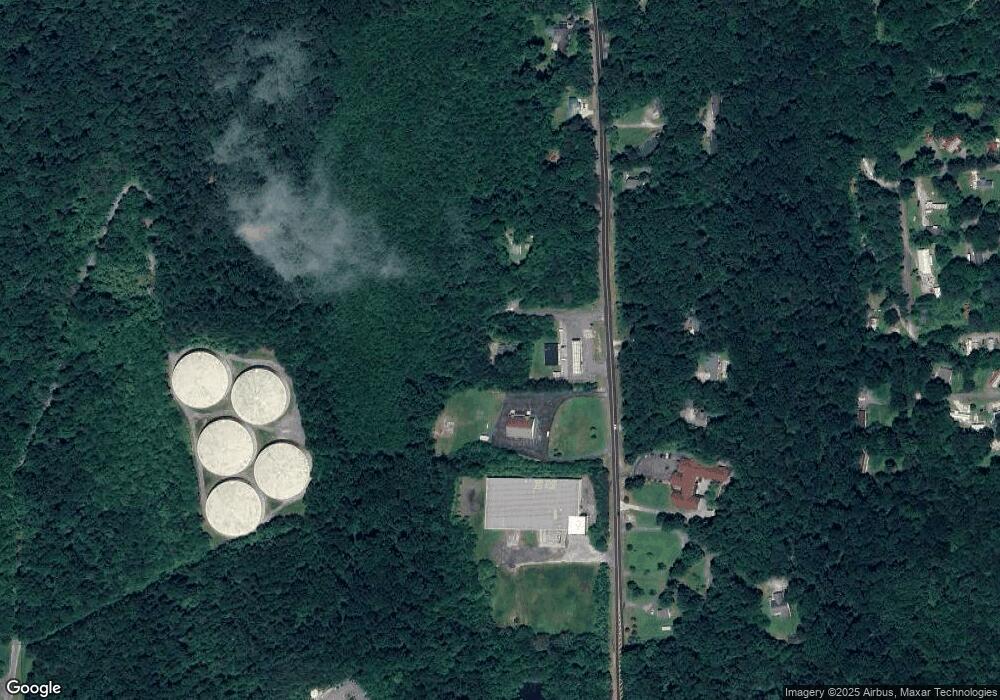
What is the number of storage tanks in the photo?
5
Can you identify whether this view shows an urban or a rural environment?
rural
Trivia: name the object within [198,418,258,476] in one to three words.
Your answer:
storage tank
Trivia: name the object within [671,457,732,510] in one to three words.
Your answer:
building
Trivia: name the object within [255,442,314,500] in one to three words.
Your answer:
storage tank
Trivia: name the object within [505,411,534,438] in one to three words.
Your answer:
building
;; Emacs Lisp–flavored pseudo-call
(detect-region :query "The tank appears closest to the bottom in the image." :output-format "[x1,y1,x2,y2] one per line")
[206,478,266,537]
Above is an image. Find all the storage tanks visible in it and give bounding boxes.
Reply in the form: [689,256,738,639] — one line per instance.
[232,367,292,426]
[173,351,232,409]
[198,418,258,476]
[255,442,314,500]
[206,478,266,537]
